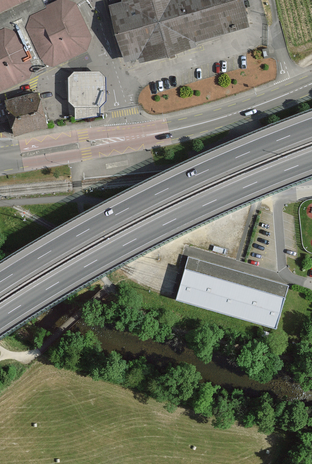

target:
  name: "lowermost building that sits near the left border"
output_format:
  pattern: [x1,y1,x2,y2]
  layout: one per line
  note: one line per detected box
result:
[5,92,48,136]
